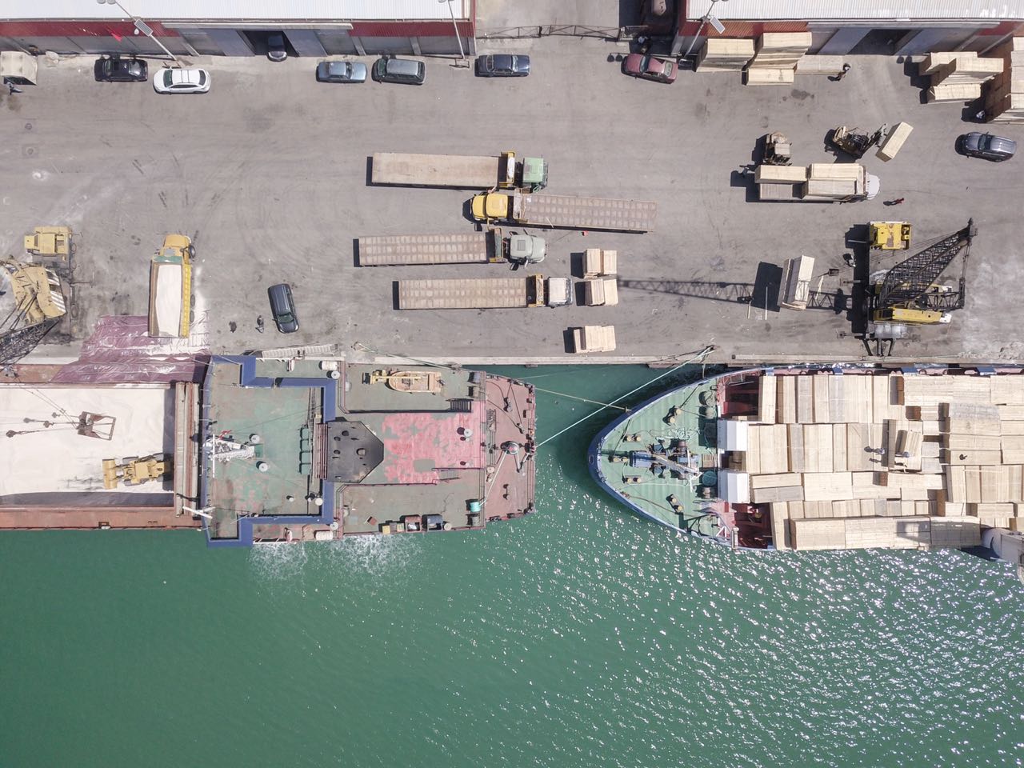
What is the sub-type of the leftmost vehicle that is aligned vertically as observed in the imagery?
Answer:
truck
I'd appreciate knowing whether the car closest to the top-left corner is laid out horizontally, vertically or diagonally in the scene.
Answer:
horizontally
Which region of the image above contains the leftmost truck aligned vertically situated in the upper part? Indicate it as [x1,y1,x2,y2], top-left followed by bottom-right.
[148,235,196,338]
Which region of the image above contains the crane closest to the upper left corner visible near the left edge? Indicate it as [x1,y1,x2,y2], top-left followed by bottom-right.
[0,227,97,370]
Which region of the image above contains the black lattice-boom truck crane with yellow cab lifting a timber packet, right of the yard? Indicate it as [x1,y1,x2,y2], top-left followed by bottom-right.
[797,204,969,357]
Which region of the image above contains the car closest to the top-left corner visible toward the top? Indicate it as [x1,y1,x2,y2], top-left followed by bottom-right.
[96,55,152,85]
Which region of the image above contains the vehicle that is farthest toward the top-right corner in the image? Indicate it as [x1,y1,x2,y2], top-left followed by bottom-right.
[953,132,1016,164]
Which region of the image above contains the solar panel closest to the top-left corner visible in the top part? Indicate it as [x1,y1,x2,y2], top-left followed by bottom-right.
[133,17,155,39]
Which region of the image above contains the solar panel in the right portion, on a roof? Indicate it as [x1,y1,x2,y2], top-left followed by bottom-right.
[705,14,727,37]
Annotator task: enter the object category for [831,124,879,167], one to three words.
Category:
work vehicle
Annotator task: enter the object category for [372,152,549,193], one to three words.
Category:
truck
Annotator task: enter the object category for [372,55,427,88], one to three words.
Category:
car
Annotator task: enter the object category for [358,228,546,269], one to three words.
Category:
truck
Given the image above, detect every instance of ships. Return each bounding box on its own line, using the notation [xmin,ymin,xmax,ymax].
[591,368,1024,570]
[0,356,536,547]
